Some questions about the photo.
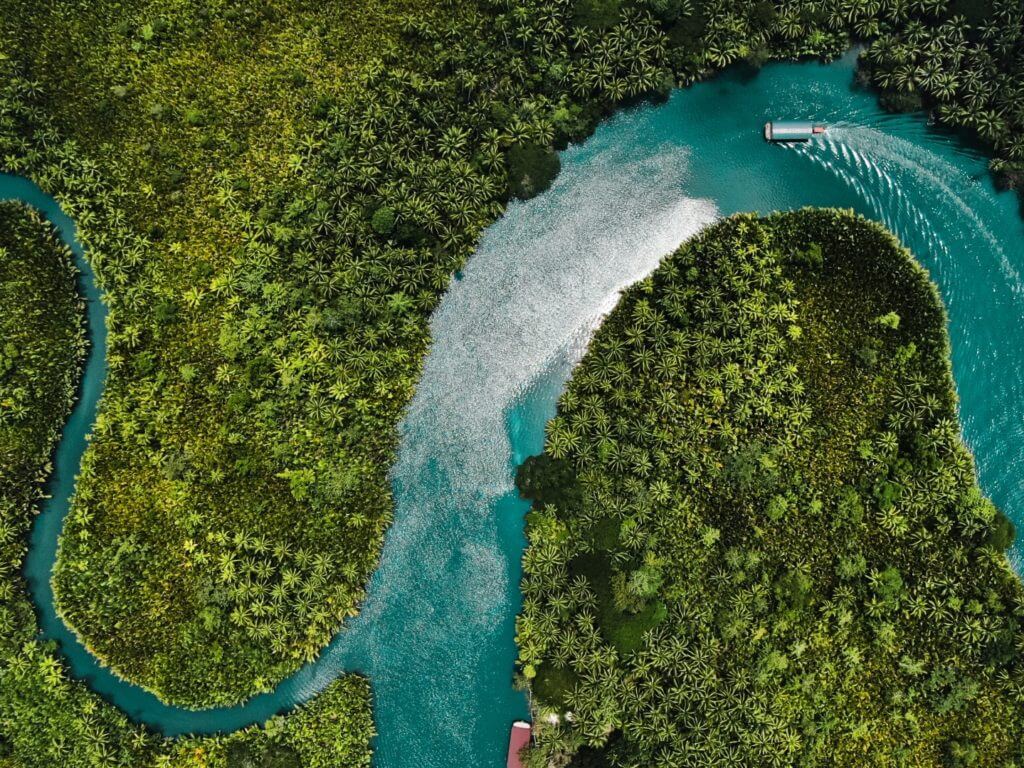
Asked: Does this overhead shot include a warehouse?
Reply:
No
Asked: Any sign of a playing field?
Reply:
No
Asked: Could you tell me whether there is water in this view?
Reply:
Yes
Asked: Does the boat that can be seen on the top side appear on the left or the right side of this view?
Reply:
right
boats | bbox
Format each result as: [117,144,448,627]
[764,121,826,142]
[505,719,529,768]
